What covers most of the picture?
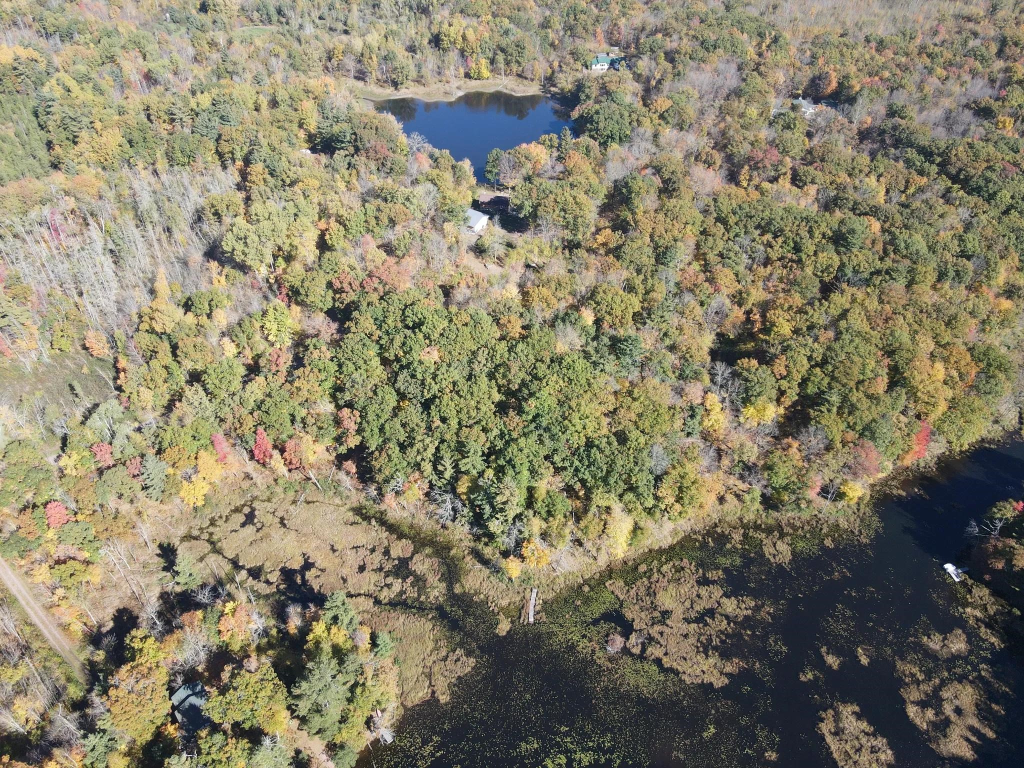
trees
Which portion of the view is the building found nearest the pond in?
top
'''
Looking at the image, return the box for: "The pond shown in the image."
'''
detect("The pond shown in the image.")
[368,91,578,183]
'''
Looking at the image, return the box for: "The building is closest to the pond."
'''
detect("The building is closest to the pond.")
[479,193,512,215]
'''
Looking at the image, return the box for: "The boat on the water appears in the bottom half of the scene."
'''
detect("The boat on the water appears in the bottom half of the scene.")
[942,564,961,583]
